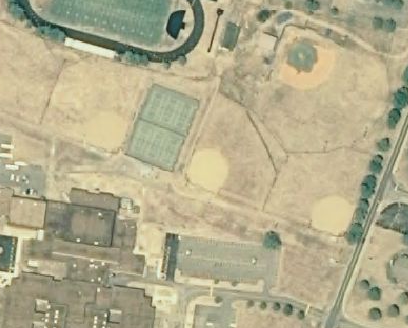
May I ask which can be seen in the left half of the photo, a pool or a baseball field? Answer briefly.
baseball field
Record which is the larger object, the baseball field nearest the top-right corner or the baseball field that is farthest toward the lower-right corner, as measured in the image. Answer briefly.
the baseball field nearest the top-right corner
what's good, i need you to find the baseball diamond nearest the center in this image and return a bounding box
[187,146,232,195]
